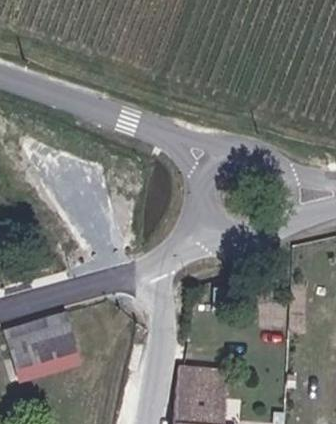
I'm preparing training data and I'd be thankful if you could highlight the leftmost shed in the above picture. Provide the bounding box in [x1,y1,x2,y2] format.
[4,312,86,384]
